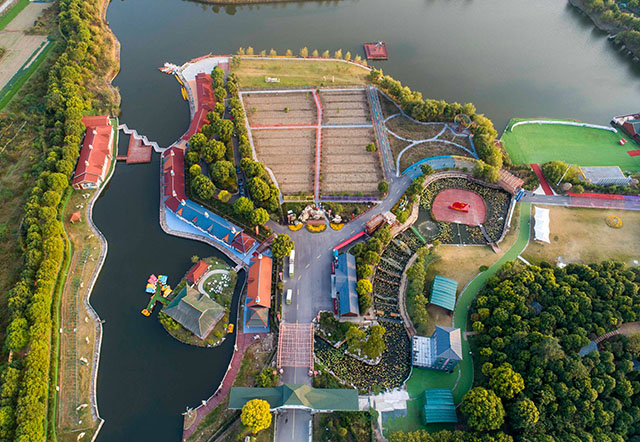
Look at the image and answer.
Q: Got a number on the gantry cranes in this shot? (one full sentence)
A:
The photo contains no gantry cranes.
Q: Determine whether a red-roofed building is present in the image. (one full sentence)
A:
Yes, you can see a red-roofed building in this photo.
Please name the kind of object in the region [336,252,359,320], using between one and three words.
house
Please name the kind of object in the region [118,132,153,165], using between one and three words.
pier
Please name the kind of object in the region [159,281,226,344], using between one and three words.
building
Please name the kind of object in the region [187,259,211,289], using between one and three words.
building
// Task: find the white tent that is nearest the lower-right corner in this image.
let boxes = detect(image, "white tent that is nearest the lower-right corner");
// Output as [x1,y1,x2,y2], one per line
[532,205,550,248]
